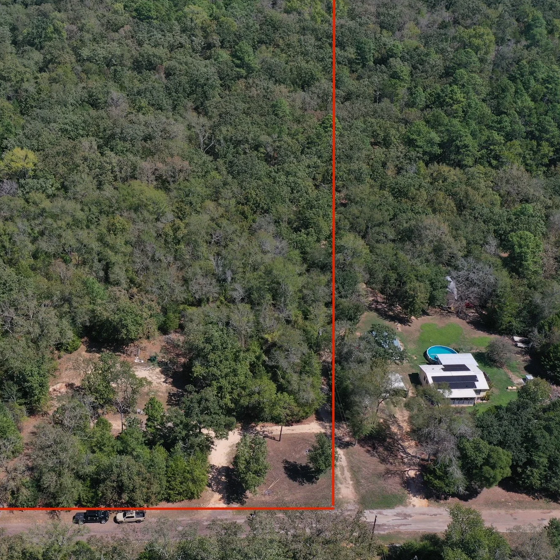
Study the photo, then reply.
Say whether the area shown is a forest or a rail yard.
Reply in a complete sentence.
This image shows a forest.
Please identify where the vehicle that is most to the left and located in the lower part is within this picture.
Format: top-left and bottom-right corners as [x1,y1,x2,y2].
[72,508,108,525]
